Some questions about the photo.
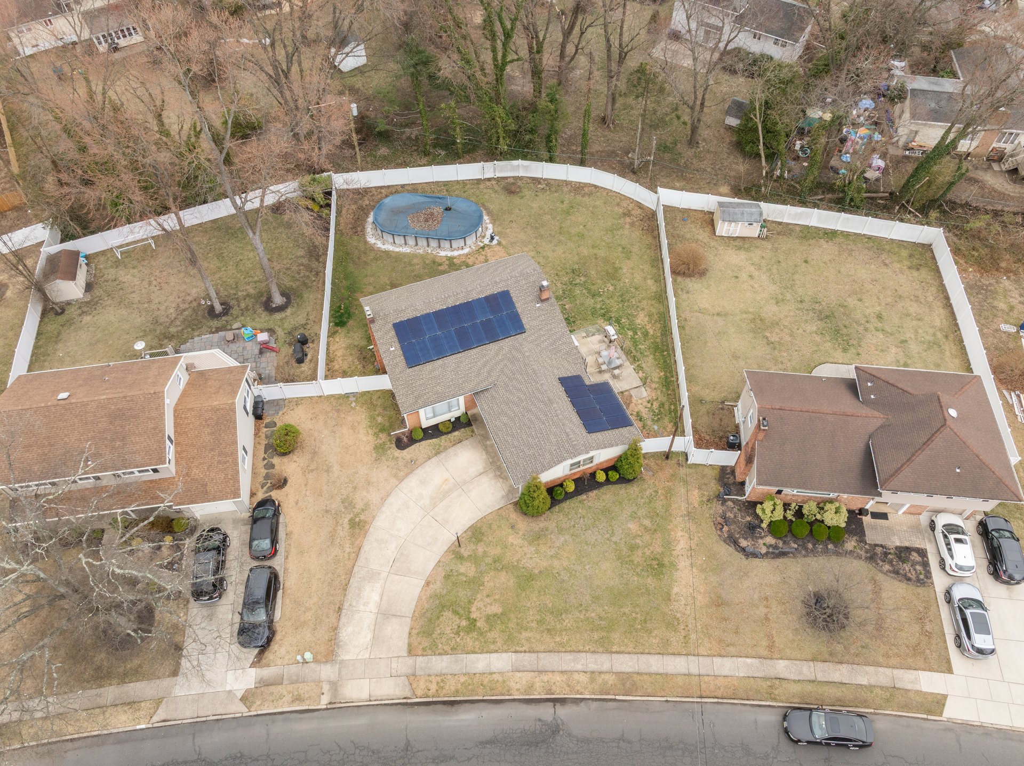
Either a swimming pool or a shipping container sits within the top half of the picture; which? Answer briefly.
swimming pool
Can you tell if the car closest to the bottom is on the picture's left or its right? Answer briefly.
right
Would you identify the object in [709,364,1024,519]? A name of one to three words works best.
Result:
house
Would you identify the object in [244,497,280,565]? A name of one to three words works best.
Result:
car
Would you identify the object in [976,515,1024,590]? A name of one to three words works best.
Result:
car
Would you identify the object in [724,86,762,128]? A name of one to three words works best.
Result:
shed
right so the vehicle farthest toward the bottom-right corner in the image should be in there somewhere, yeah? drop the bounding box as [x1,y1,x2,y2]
[946,582,998,661]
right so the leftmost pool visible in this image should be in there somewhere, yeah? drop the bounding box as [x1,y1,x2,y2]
[367,195,487,249]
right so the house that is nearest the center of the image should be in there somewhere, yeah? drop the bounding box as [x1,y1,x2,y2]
[359,253,646,498]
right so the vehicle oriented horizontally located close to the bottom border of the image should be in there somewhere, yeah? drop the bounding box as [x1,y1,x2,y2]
[781,707,875,757]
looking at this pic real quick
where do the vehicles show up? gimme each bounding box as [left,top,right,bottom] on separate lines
[189,527,230,602]
[781,707,875,757]
[946,582,998,661]
[244,497,280,565]
[236,564,282,650]
[976,515,1024,590]
[934,512,977,580]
